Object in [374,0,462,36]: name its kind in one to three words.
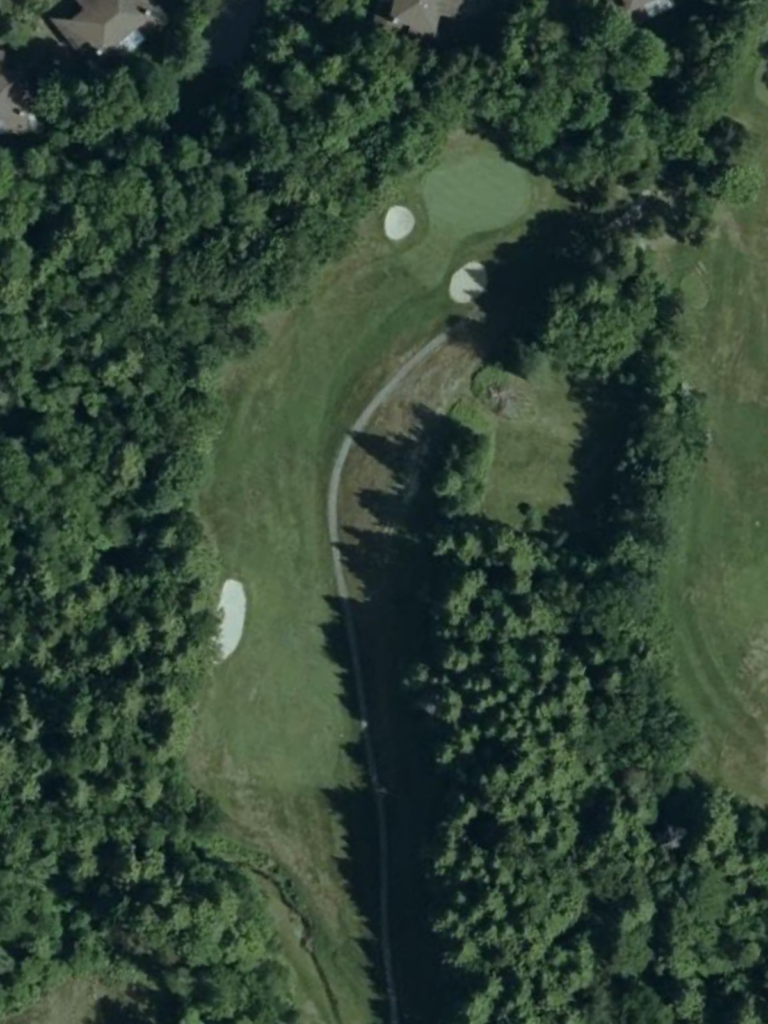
house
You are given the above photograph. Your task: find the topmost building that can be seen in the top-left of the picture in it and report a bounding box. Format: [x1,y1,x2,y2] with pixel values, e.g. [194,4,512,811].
[52,0,155,57]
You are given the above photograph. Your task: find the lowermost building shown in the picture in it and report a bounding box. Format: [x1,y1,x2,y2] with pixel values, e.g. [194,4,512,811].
[0,48,39,133]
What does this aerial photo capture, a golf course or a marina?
golf course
